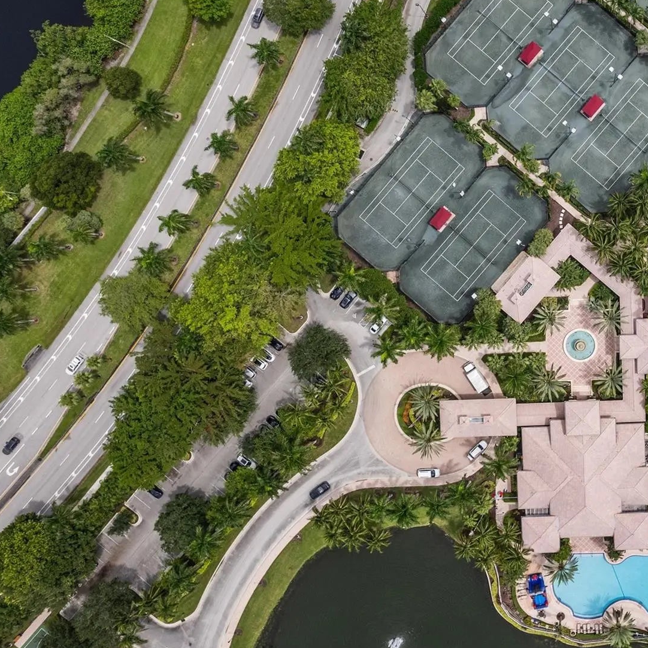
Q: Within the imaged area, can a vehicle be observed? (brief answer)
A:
Yes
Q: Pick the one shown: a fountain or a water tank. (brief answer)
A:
fountain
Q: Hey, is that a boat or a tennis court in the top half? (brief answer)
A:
tennis court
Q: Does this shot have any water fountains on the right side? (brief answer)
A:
Yes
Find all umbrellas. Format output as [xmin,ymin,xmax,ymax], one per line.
[556,611,565,620]
[537,610,546,619]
